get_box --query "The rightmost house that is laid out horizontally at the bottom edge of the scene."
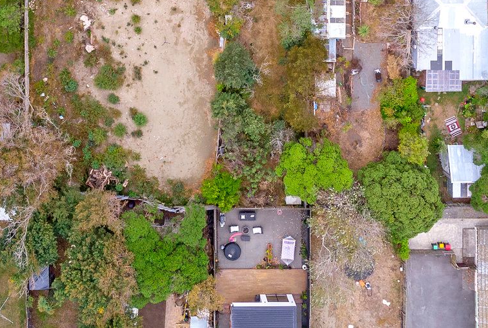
[228,298,298,328]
